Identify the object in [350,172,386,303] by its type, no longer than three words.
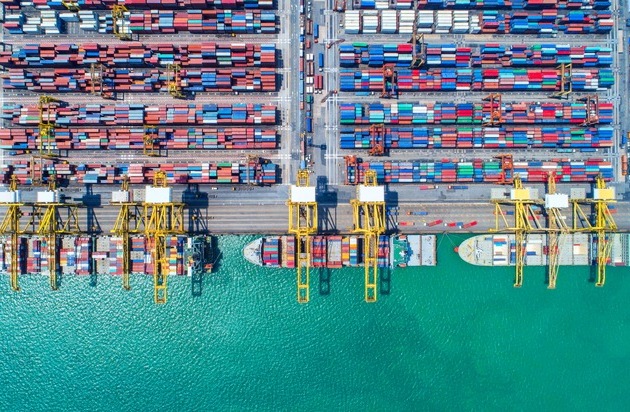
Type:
container crane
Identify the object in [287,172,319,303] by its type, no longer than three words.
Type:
container crane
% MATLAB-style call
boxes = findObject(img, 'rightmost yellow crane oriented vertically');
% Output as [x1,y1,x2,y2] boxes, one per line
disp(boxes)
[564,172,618,290]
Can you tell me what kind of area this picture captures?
port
